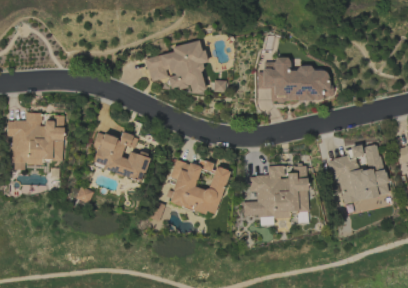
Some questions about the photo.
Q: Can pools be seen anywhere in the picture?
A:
Yes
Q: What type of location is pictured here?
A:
residential area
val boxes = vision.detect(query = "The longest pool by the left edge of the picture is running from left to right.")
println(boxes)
[16,174,48,186]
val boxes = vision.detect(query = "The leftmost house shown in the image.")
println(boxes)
[6,113,65,170]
